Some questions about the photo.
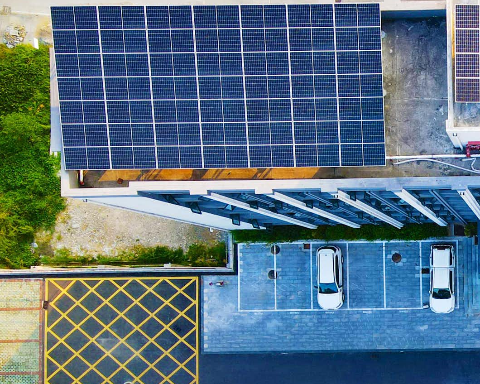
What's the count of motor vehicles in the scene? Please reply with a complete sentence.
In total, there are 2 motor vehicles in the scene.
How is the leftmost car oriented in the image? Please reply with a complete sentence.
The leftmost car has been laid out vertically relative to the frame.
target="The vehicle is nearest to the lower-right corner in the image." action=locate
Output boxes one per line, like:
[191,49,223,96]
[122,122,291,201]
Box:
[427,244,457,315]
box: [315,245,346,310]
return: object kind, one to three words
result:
car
